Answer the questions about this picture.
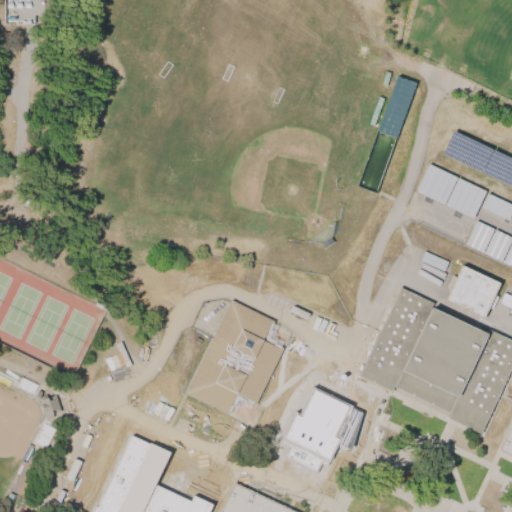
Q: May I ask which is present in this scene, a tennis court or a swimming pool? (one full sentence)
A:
It is a tennis court that can be seen here.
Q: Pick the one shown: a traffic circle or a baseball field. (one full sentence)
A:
The one in the frame is a baseball field.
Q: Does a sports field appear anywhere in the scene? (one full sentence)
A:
Yes, I can see a sports field in this picture.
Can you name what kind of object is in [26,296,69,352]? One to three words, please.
tennis court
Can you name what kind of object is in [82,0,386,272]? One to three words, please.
sports field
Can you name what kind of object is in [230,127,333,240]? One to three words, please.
baseball field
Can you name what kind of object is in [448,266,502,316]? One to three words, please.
building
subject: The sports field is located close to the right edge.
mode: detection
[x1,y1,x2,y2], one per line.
[405,0,512,100]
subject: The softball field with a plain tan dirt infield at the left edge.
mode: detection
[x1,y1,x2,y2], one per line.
[0,386,41,504]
